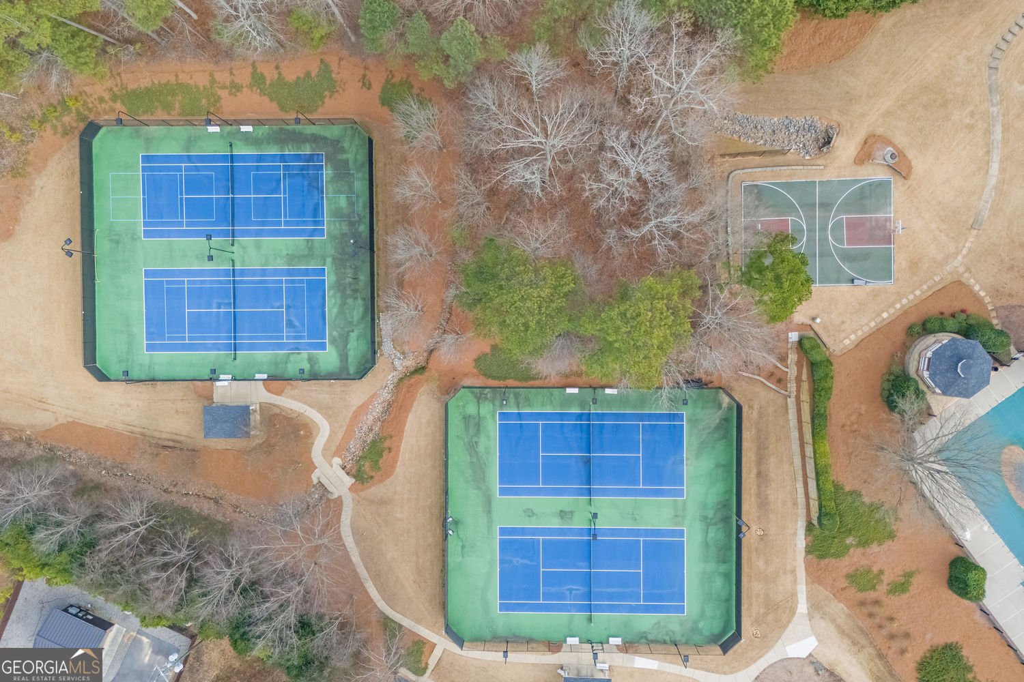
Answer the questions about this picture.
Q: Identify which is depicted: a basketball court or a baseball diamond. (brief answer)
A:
basketball court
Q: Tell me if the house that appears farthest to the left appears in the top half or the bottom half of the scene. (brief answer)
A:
bottom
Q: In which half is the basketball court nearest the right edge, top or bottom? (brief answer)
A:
top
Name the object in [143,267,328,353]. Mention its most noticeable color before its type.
blue tennis court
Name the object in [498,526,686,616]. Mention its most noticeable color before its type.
blue tennis court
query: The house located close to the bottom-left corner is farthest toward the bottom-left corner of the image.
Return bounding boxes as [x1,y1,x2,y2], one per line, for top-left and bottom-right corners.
[33,606,114,682]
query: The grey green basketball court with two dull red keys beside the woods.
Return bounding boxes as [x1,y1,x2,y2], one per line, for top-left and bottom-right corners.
[742,178,894,286]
